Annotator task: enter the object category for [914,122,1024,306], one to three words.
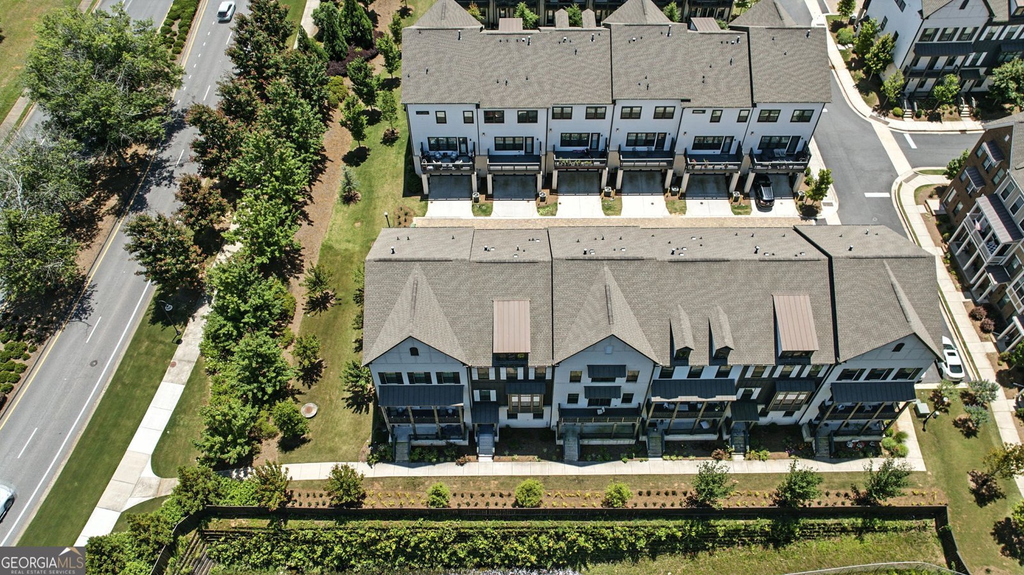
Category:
house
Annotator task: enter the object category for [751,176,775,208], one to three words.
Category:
car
